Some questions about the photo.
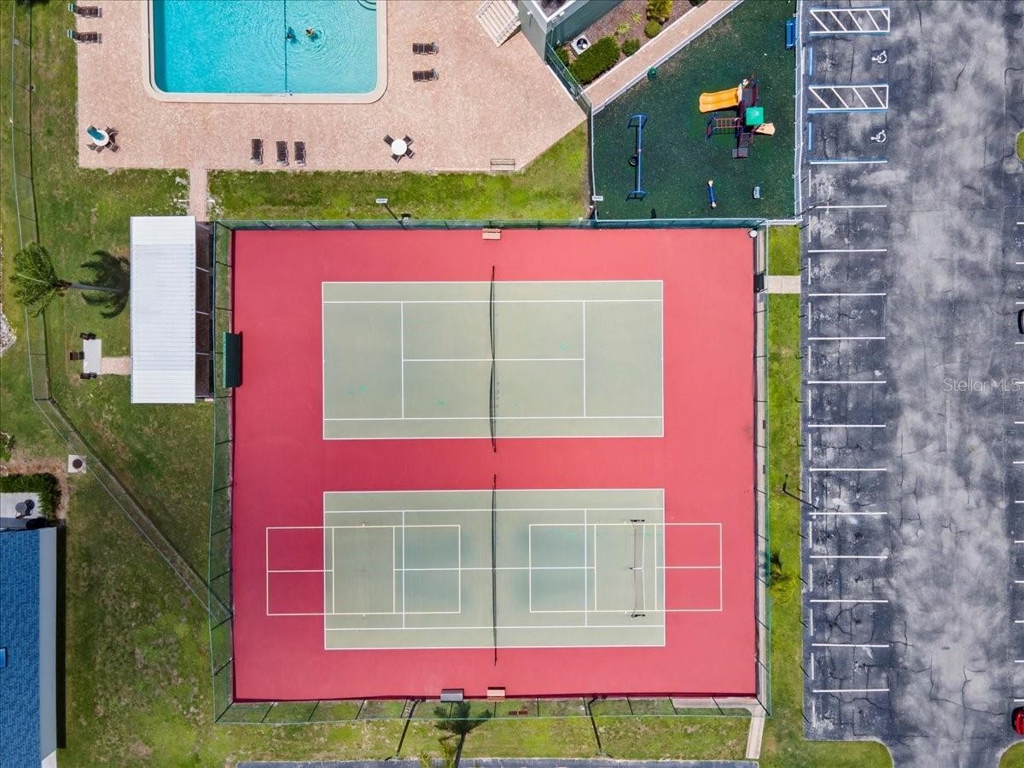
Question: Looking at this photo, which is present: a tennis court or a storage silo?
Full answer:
There is a tennis court in the scene.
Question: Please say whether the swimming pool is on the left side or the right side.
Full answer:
The swimming pool is on the left side of the image.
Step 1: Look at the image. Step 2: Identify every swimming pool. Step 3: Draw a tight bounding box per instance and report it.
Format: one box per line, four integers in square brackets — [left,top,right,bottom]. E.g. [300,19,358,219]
[144,0,386,103]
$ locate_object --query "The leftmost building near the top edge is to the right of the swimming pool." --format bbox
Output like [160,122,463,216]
[504,0,627,65]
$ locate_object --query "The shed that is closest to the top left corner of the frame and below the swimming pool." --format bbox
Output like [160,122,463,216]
[131,215,209,404]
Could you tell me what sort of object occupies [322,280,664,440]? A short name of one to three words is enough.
tennis court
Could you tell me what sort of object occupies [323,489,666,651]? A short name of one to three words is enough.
tennis court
